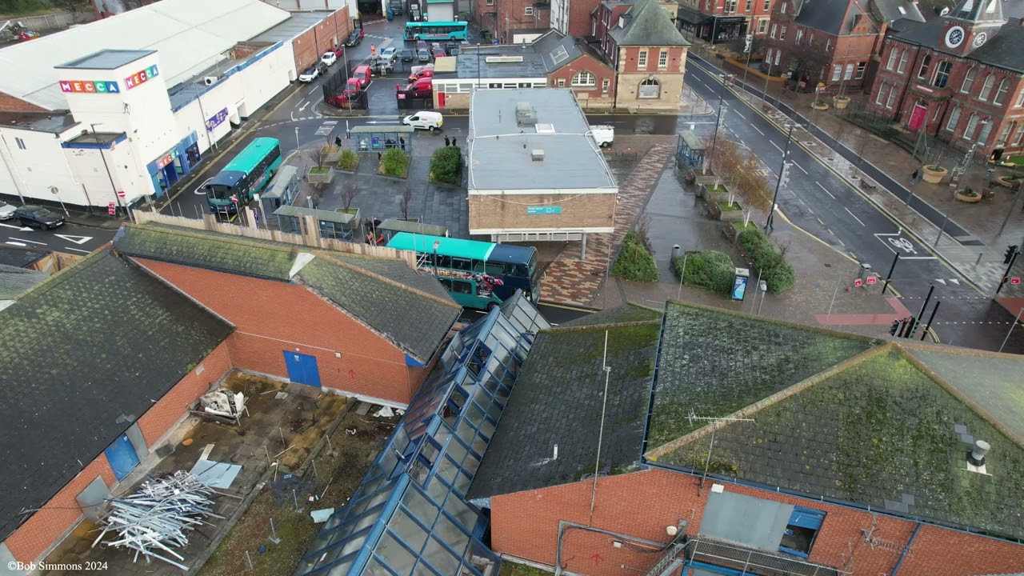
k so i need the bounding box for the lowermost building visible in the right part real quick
[461,298,1024,576]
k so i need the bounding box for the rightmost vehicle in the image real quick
[590,126,621,148]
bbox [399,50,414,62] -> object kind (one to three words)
vehicle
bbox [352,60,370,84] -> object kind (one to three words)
vehicle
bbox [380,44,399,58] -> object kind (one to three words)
car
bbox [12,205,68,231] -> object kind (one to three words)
car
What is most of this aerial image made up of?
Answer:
buildings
